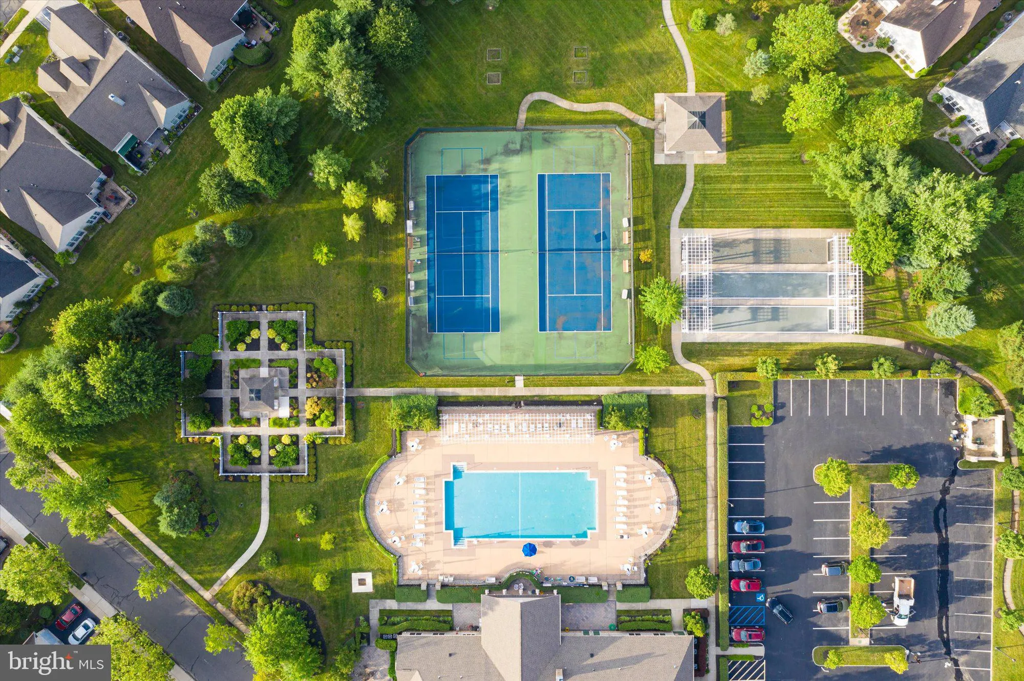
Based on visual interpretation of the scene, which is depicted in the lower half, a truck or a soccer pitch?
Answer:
truck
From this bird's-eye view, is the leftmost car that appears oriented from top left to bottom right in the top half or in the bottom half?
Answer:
bottom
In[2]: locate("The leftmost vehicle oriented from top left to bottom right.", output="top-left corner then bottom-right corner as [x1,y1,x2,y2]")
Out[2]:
[765,595,794,627]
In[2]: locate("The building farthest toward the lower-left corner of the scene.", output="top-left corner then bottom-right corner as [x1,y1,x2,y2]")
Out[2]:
[10,622,81,681]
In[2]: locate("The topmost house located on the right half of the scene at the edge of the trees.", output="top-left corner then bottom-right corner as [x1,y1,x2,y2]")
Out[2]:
[875,0,1001,72]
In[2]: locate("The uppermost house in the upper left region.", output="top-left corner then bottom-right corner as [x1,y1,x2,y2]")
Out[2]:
[116,0,251,83]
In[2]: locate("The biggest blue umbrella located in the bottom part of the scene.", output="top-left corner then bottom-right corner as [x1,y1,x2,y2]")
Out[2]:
[522,547,537,561]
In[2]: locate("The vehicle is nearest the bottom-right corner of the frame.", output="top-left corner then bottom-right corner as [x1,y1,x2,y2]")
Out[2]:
[887,571,919,622]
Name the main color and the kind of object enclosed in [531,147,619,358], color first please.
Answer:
blue tennis court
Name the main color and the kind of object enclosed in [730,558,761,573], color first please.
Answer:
blue car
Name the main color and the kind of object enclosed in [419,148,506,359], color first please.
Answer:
blue tennis court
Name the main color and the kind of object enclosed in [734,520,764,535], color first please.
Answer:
blue car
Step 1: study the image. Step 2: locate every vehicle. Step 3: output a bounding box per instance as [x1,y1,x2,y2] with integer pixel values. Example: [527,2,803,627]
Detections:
[819,562,848,577]
[730,558,761,573]
[730,577,762,593]
[765,595,794,627]
[731,627,765,644]
[887,571,919,622]
[731,539,763,555]
[816,599,847,614]
[68,617,97,646]
[734,520,764,535]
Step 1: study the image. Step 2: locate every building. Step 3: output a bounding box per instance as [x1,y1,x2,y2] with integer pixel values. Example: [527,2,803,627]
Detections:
[241,377,279,412]
[0,92,108,252]
[937,10,1024,138]
[10,622,81,681]
[116,0,251,83]
[394,590,694,681]
[0,244,49,325]
[664,95,722,154]
[875,0,1001,72]
[38,2,194,171]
